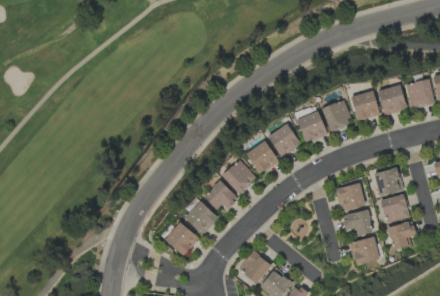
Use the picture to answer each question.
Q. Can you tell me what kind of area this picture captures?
golf course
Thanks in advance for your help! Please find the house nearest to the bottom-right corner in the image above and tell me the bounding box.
[388,222,416,250]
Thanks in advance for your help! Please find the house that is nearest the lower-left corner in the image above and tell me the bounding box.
[166,222,198,256]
